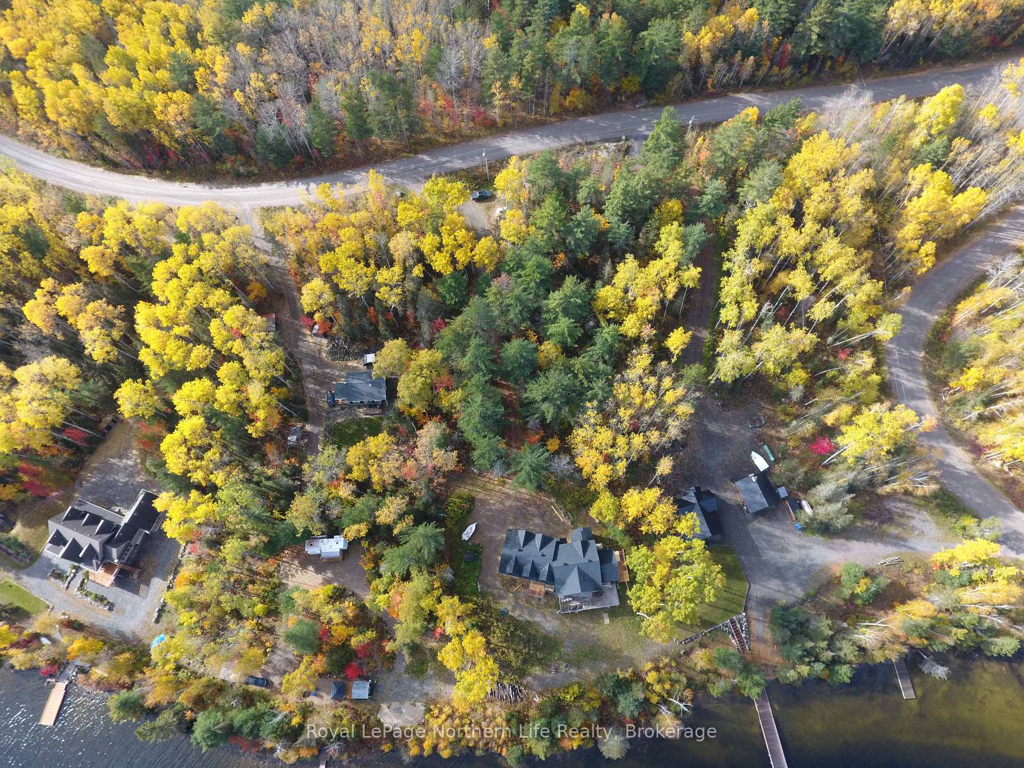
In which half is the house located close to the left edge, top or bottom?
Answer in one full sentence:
It is in the bottom half that the house located close to the left edge appears.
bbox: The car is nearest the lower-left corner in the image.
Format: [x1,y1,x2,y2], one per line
[243,676,268,689]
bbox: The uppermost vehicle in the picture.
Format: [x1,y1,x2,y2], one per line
[470,189,492,201]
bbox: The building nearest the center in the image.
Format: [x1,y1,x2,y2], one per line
[334,370,388,415]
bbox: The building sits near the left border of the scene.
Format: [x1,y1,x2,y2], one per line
[42,482,173,587]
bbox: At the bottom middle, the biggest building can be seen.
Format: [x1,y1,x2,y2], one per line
[498,521,631,614]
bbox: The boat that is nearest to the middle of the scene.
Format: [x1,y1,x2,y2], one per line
[459,522,476,543]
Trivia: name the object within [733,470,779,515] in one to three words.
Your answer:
building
